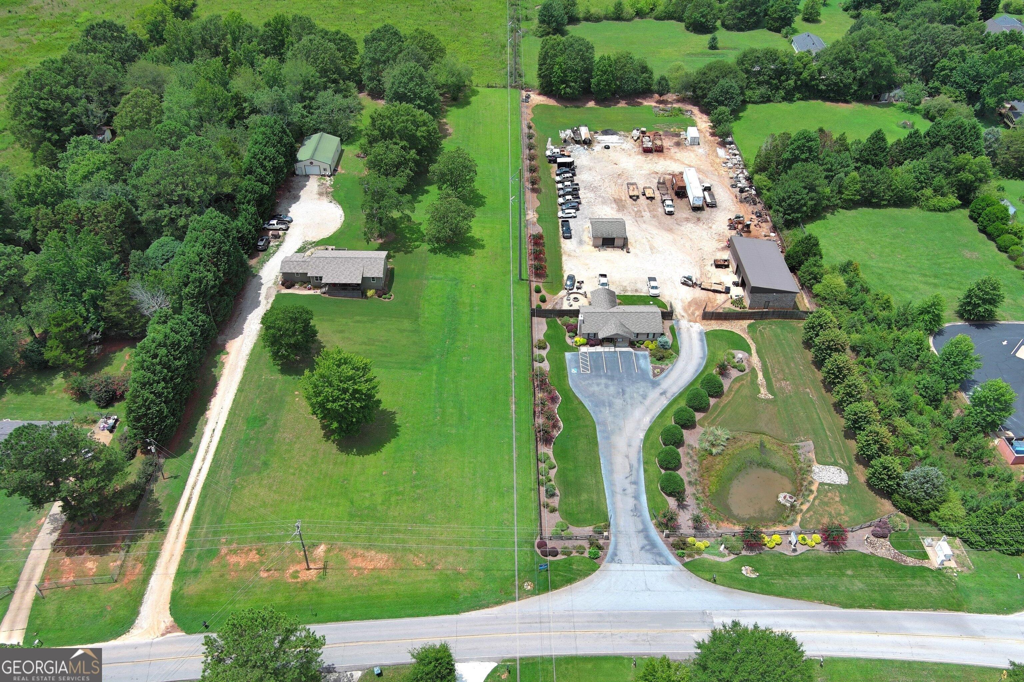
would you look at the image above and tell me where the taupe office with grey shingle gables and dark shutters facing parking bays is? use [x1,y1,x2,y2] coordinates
[577,285,663,347]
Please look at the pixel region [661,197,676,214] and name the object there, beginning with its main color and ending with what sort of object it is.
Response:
white vehicle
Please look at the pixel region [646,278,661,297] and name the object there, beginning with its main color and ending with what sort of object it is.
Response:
white vehicle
